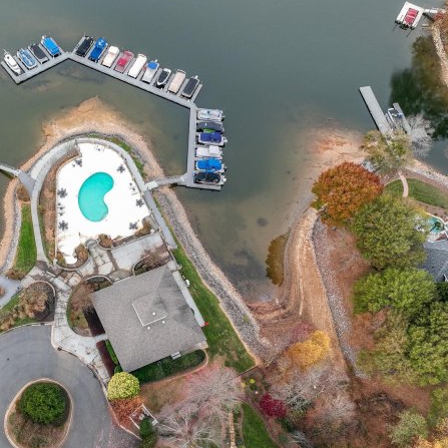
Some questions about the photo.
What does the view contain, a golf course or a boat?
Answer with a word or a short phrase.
boat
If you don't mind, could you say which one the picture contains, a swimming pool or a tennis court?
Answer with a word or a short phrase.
swimming pool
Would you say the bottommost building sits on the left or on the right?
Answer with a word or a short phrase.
left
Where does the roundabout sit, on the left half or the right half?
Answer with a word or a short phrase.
left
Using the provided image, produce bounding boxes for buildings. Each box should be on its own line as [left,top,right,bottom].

[91,265,207,372]
[423,229,448,282]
